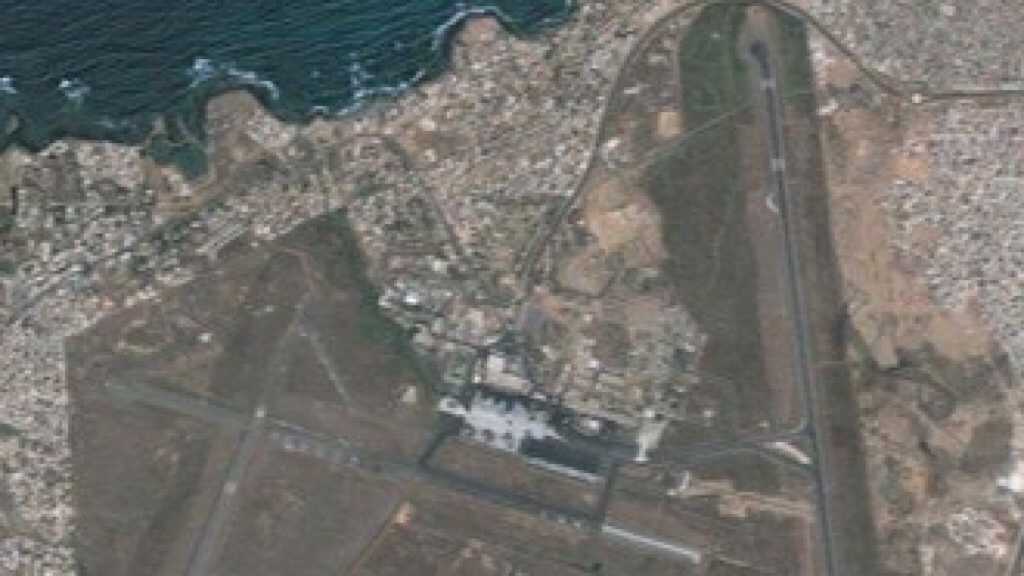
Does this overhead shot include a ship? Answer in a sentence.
No, there is no ship in the image.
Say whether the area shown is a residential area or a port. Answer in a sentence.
This looks like a residential area.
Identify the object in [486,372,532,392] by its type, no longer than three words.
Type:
building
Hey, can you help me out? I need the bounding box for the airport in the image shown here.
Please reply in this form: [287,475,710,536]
[106,40,840,576]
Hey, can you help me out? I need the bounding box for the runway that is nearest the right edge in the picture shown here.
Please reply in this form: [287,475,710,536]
[750,40,840,576]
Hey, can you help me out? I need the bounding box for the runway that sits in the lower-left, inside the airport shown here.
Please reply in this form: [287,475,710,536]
[181,315,306,576]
